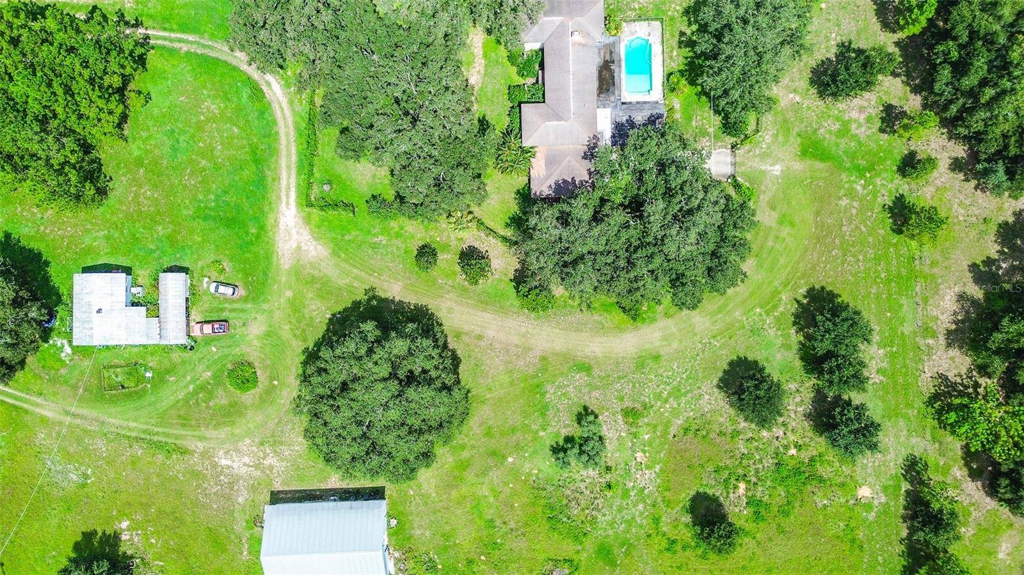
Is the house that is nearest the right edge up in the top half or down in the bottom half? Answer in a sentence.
You can find the house that is nearest the right edge in the top half.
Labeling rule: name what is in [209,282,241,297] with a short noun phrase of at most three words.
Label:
car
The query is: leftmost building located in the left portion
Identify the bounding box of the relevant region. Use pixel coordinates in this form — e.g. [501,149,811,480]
[74,273,154,346]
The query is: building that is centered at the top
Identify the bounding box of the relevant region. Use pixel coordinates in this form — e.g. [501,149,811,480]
[521,0,611,197]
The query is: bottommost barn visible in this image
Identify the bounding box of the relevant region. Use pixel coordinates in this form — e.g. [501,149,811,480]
[260,495,393,575]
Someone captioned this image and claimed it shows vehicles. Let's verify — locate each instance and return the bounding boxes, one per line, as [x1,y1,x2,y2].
[192,321,230,336]
[209,282,241,297]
